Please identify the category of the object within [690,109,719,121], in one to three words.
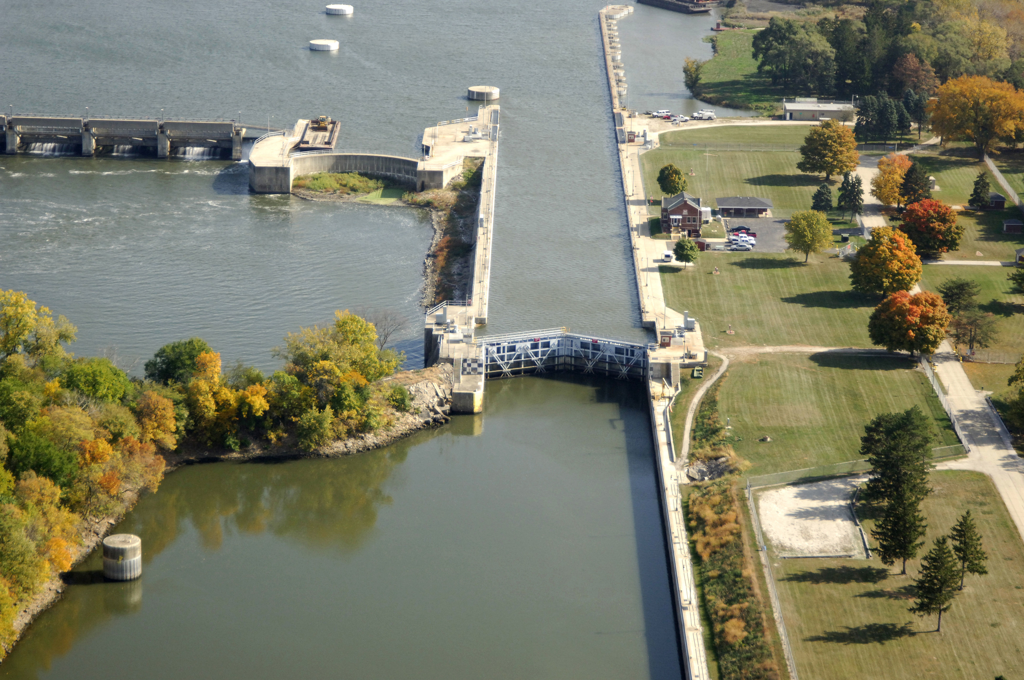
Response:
vehicle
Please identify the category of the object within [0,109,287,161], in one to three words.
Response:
dam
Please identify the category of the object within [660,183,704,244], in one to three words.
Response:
house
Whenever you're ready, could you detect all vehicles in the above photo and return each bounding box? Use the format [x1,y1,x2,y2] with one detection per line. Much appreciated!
[315,113,327,129]
[732,237,756,247]
[733,228,757,237]
[731,243,752,251]
[730,225,751,231]
[660,112,677,120]
[730,232,754,241]
[670,114,690,122]
[652,110,670,118]
[690,109,719,121]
